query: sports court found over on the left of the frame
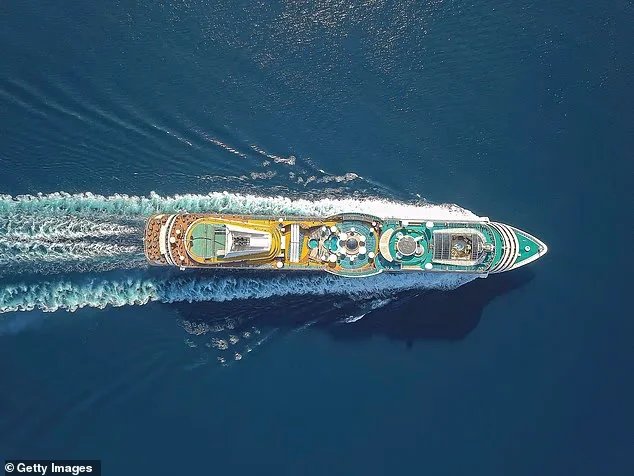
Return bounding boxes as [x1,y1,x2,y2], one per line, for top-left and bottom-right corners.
[192,223,226,258]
